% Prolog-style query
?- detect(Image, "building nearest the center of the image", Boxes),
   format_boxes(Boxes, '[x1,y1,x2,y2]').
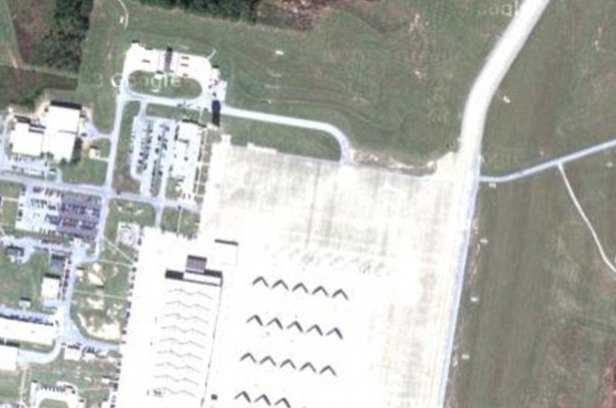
[212,243,238,267]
